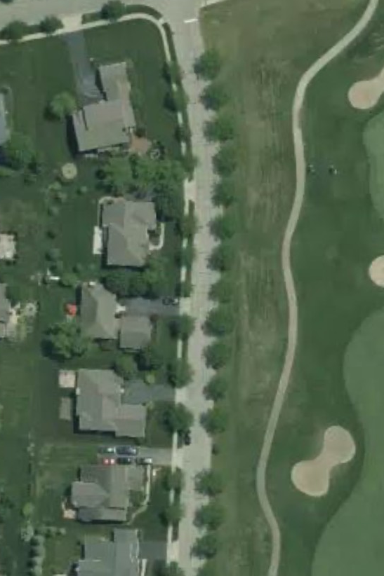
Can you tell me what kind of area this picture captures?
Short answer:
golf course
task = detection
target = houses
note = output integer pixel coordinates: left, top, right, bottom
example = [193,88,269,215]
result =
[102,200,156,267]
[70,66,135,153]
[78,530,140,576]
[77,369,147,438]
[0,94,10,148]
[0,284,7,338]
[72,466,146,522]
[81,283,153,349]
